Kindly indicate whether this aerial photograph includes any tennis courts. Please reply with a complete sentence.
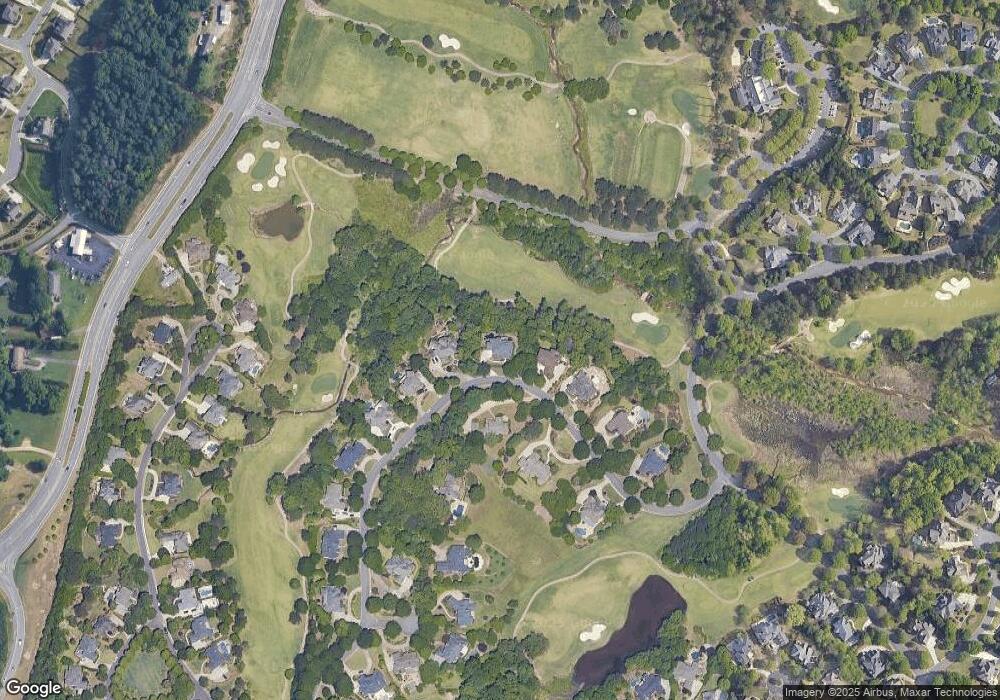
No, I can't see a single tennis court in this photo.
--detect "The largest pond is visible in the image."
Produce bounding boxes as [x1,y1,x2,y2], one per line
[571,573,687,691]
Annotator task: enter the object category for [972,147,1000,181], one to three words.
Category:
house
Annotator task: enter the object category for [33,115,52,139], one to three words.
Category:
house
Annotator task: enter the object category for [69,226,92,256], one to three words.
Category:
building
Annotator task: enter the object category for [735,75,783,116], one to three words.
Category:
building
